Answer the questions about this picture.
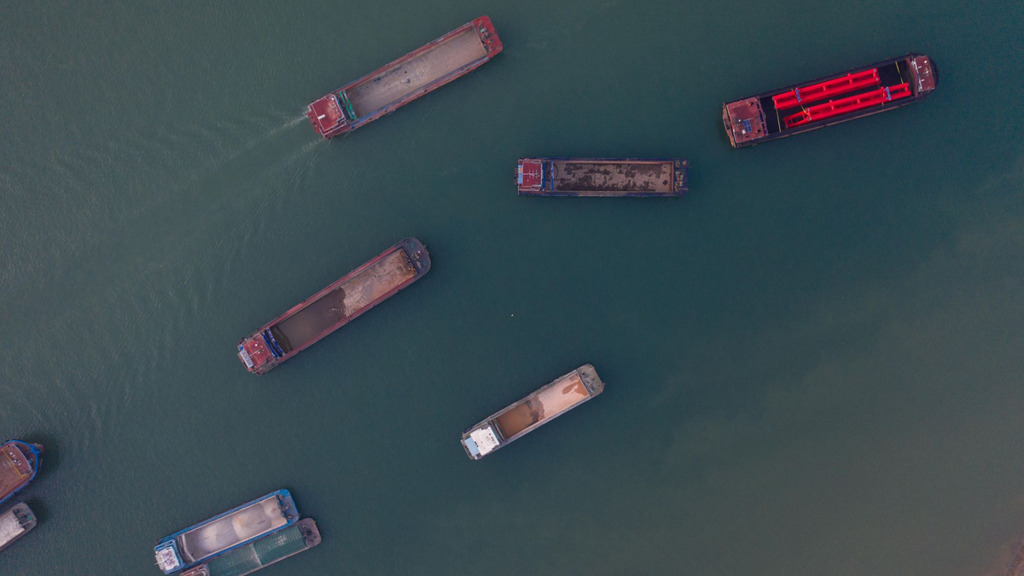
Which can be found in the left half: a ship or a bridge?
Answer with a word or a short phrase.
ship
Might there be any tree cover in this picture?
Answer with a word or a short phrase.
No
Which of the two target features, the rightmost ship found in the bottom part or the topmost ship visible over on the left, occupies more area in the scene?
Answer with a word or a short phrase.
the topmost ship visible over on the left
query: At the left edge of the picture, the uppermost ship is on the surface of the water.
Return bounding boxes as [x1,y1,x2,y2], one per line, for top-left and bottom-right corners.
[0,441,44,504]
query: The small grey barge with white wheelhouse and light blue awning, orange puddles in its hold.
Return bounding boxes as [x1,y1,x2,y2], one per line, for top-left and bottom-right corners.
[460,364,607,460]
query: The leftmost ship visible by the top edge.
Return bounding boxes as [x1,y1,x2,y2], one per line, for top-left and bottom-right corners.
[309,15,502,139]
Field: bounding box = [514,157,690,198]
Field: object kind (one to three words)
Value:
ship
